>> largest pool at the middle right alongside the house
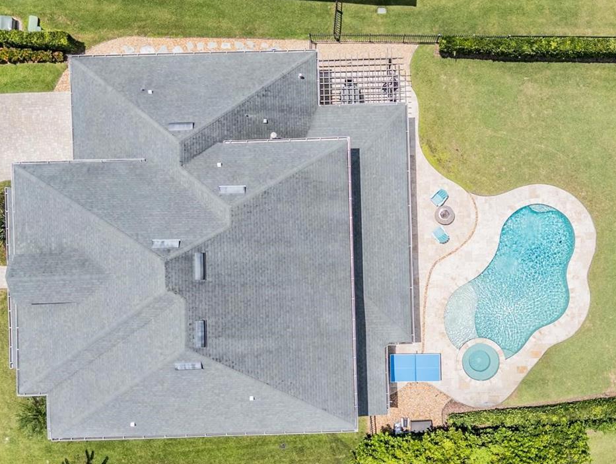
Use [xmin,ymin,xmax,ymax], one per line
[440,199,580,363]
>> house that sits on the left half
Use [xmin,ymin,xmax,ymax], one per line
[4,47,417,442]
